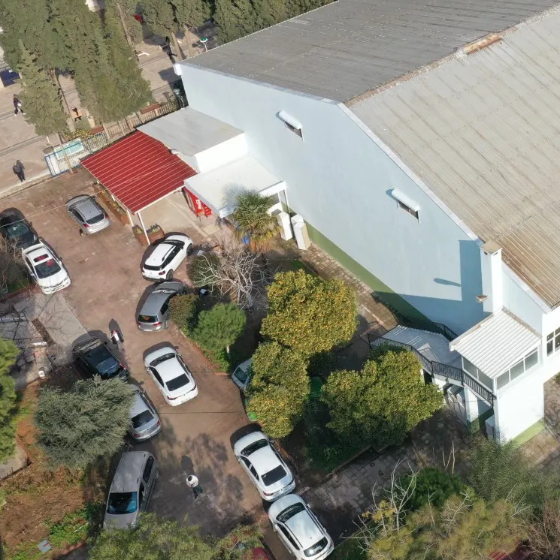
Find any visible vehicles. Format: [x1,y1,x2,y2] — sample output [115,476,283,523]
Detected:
[266,489,339,560]
[113,383,170,447]
[136,231,191,282]
[63,197,115,235]
[225,341,260,407]
[15,243,73,291]
[232,427,294,504]
[67,332,136,388]
[0,206,45,252]
[145,345,200,408]
[100,442,159,534]
[137,278,185,331]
